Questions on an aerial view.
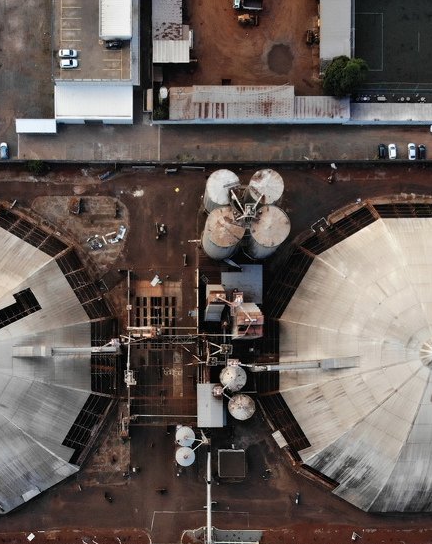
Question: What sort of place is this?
industrial area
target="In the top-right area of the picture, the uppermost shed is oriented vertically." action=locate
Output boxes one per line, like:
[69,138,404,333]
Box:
[317,0,351,81]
